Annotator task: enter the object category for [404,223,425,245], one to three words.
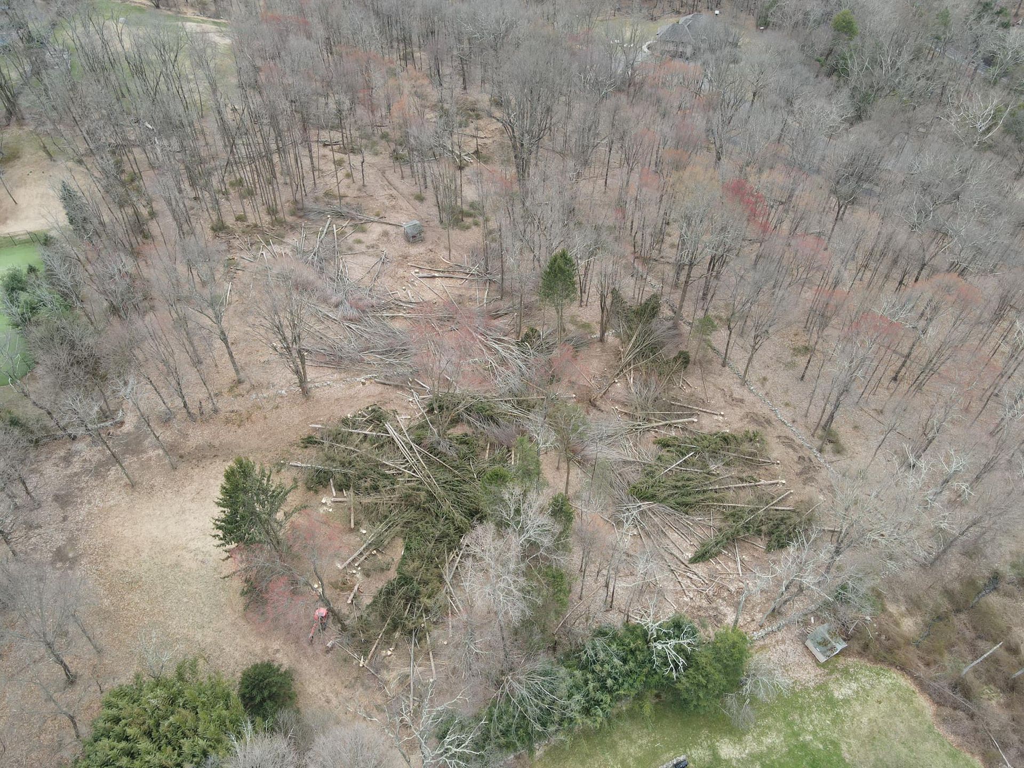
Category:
shed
